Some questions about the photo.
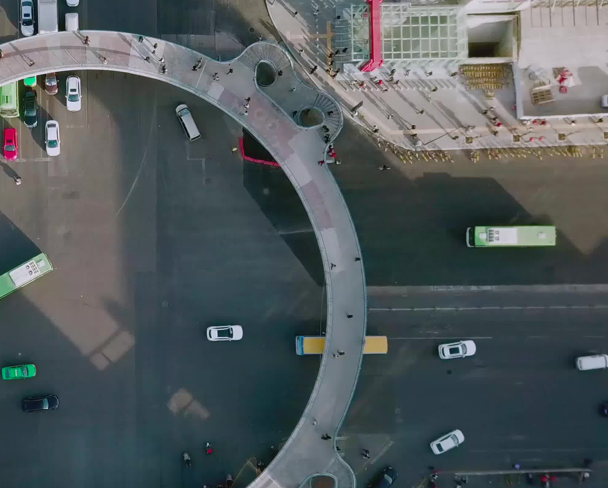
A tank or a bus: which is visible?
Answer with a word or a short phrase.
bus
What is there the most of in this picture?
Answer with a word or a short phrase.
paved ground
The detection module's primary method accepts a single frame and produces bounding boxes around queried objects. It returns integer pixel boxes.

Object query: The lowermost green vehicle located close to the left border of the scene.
[1,363,37,380]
